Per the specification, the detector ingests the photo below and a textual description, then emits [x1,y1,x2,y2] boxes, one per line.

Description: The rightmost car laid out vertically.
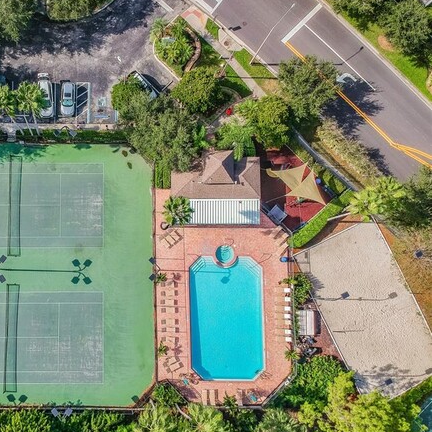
[59,82,76,119]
